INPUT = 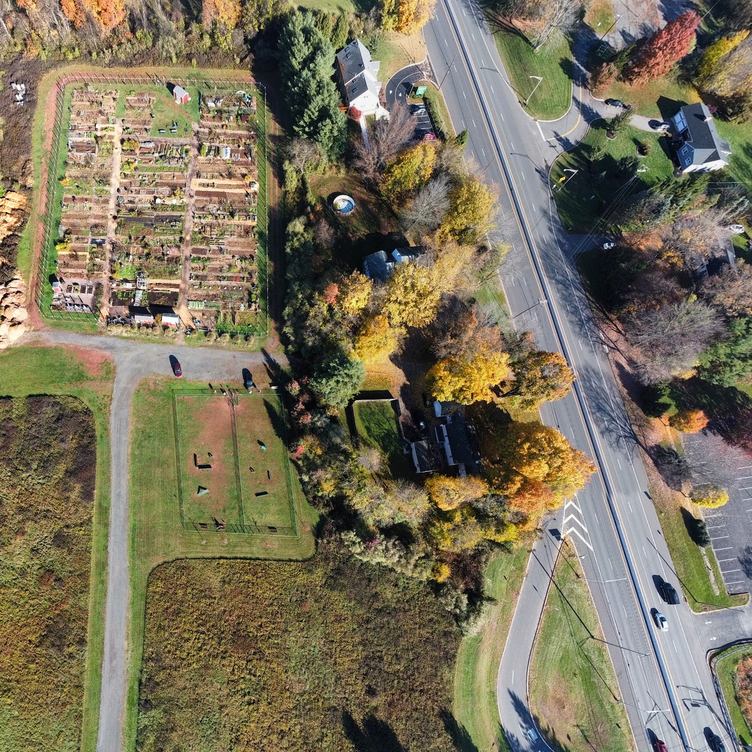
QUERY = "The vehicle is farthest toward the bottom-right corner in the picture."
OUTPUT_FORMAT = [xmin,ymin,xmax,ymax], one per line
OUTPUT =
[708,730,729,752]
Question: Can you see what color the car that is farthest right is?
black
